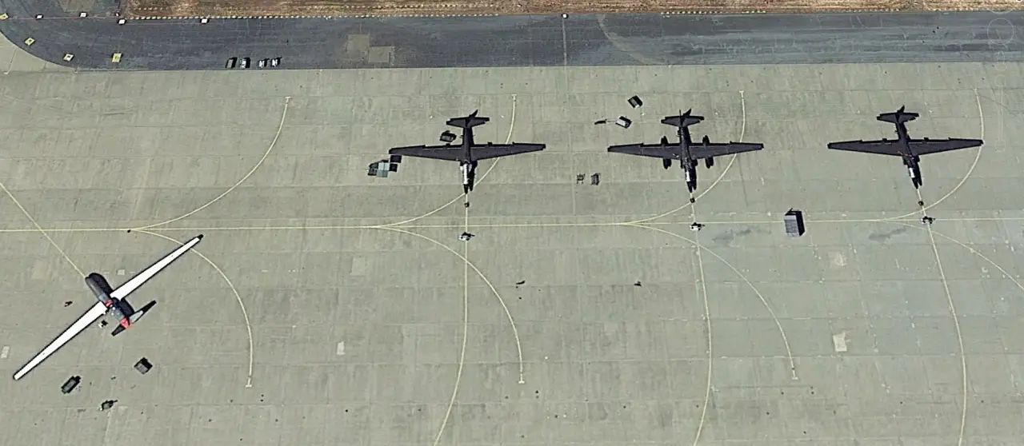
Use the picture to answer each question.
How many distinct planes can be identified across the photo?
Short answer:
4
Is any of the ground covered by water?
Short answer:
No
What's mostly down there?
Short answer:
paved ground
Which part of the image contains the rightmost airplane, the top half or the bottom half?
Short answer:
top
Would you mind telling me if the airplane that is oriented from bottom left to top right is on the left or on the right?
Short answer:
left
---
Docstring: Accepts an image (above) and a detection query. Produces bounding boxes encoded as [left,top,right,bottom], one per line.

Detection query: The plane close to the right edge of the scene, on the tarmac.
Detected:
[828,110,981,190]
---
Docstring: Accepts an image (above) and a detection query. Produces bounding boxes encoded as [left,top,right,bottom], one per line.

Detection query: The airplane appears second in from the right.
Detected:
[608,112,761,193]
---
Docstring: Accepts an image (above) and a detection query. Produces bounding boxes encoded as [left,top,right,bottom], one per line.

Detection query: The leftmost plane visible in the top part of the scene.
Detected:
[390,116,544,194]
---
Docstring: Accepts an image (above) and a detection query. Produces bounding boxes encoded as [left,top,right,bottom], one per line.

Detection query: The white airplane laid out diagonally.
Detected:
[13,238,200,379]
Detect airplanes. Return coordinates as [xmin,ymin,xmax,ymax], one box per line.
[608,112,761,193]
[390,116,544,194]
[13,238,200,379]
[828,110,981,190]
